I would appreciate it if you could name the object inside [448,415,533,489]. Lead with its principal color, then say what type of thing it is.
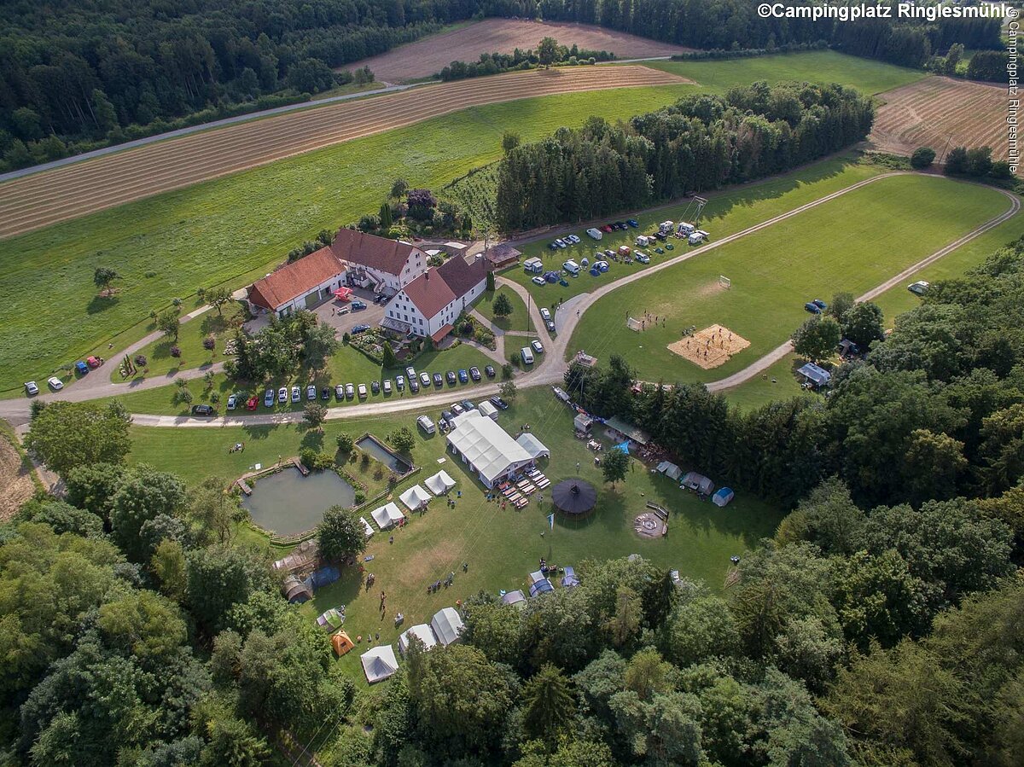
white tent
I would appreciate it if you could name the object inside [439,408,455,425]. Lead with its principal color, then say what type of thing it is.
gray car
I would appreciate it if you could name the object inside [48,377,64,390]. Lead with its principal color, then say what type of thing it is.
white vehicle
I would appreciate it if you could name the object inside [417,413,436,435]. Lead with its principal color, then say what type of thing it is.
white vehicle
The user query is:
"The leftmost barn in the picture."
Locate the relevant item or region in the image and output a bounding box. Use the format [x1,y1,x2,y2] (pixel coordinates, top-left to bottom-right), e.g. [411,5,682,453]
[247,245,347,322]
